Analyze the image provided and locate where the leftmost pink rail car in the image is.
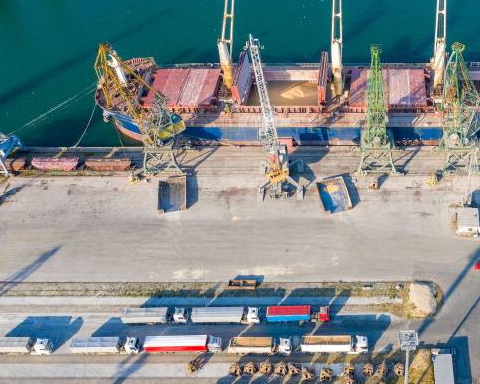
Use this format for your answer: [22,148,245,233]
[26,156,81,170]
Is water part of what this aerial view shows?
Yes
